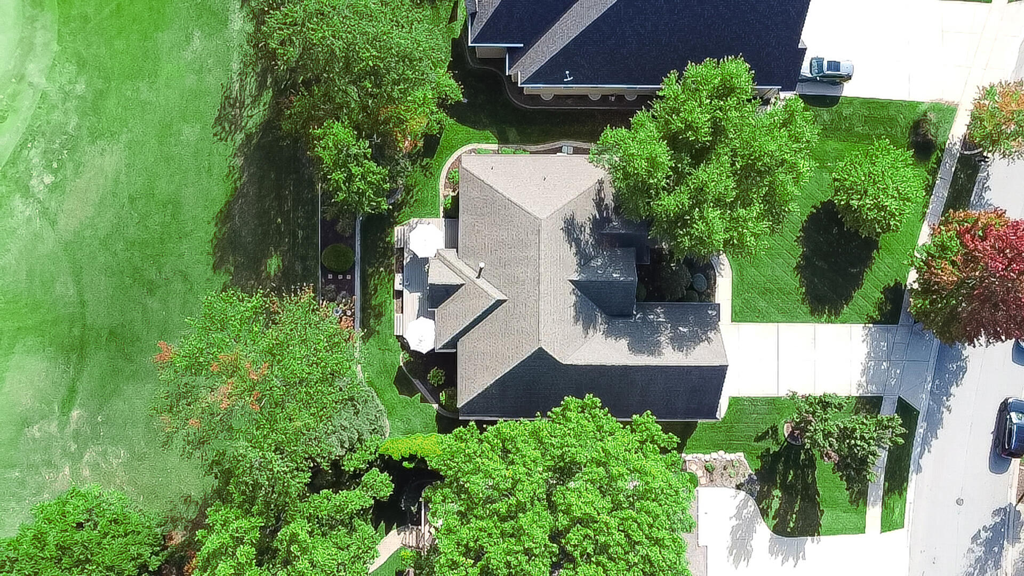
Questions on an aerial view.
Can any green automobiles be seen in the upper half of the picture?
No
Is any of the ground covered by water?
No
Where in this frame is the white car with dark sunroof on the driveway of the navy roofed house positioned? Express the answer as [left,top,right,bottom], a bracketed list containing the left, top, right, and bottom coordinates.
[796,56,853,84]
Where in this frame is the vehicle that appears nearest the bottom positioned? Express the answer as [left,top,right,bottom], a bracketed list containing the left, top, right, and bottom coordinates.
[994,399,1024,457]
